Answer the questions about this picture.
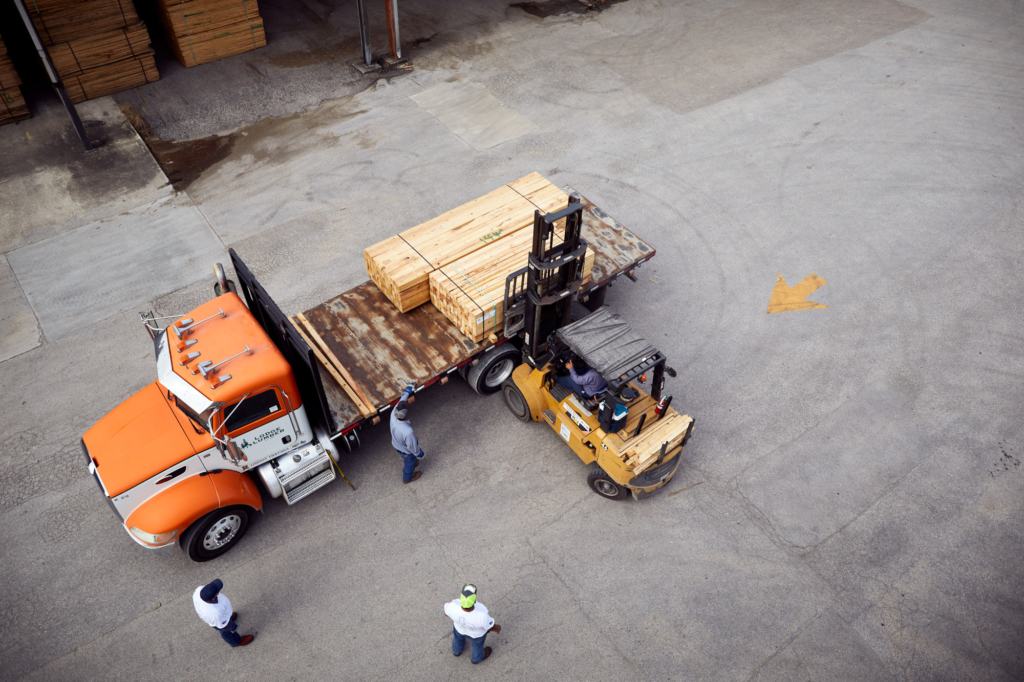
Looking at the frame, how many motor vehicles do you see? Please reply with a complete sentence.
There are 2 motor vehicles in the image.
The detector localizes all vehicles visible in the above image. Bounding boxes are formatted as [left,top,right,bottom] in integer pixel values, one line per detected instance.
[501,185,700,507]
[75,184,658,621]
